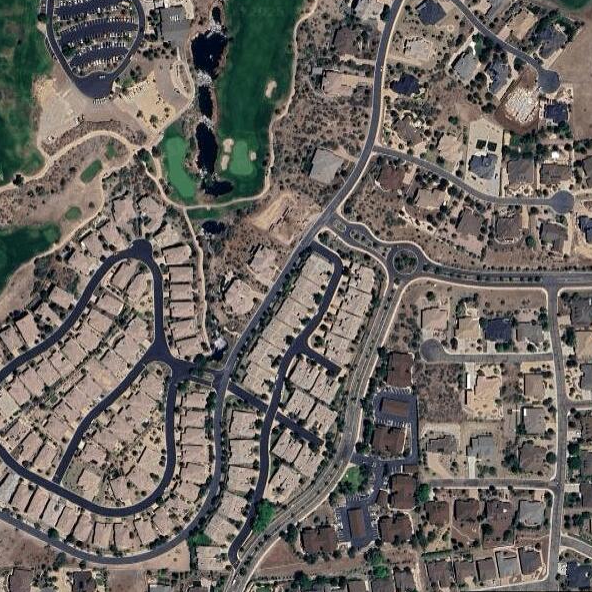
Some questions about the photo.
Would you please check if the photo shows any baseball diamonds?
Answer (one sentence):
No, there appears to be no baseball diamond in this shot.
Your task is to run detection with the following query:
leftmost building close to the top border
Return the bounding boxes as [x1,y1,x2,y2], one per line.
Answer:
[158,7,190,46]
